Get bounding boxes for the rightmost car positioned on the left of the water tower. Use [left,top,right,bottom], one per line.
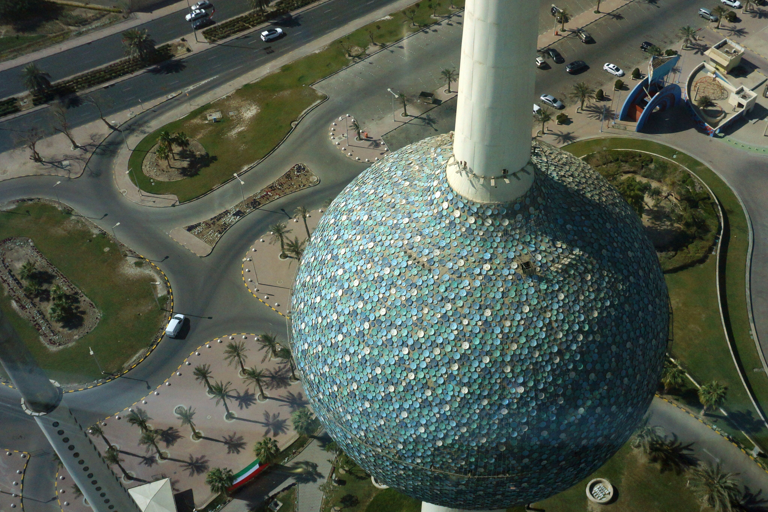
[260,27,283,41]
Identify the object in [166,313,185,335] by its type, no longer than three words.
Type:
vehicle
